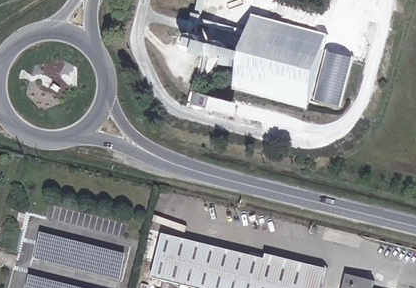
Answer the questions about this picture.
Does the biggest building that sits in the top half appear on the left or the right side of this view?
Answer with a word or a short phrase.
right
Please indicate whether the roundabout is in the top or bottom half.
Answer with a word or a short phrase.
top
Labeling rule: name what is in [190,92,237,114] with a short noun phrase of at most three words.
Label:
building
